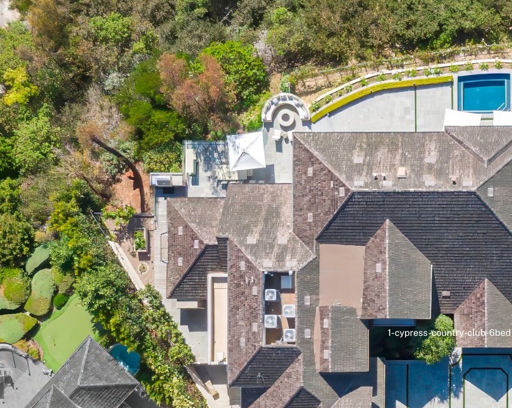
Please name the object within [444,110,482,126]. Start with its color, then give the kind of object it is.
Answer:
white umbrella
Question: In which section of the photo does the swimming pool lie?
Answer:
top right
